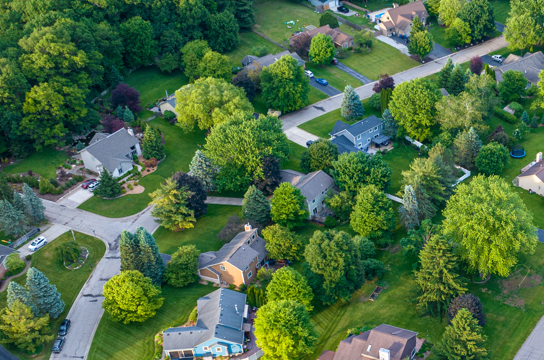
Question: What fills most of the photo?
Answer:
trees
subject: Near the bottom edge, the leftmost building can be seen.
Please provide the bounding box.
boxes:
[163,285,246,359]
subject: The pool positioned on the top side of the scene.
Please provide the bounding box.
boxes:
[359,7,393,21]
